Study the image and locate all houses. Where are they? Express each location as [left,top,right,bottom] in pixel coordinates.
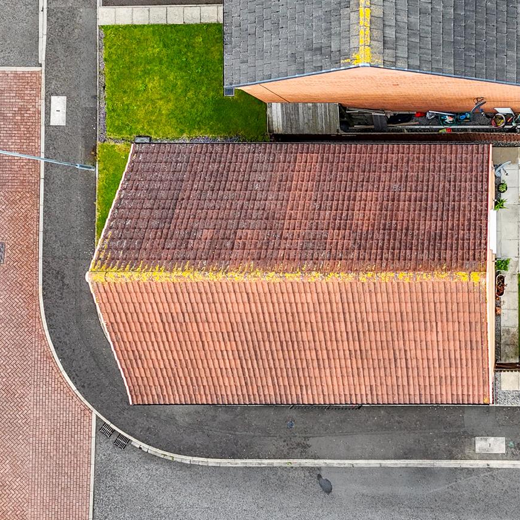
[85,135,497,407]
[221,0,520,111]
